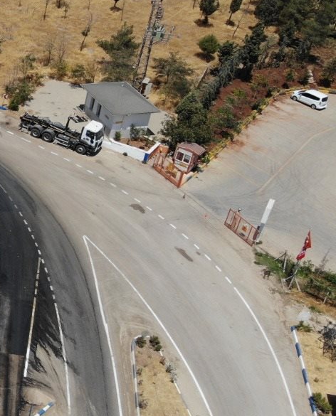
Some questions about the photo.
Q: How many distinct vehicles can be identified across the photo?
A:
2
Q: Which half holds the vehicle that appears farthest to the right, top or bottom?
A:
top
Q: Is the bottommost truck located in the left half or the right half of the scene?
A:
left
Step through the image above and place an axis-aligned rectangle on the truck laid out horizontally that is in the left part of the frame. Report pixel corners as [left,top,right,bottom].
[24,115,108,156]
